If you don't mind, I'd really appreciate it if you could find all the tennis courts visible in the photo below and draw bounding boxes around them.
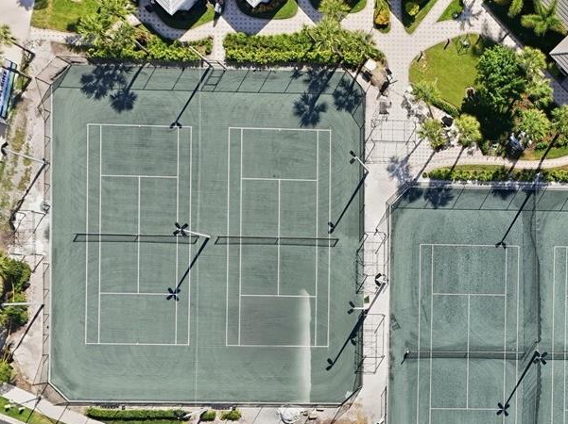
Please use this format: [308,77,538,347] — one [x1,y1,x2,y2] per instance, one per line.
[534,190,568,424]
[197,66,364,403]
[387,189,534,424]
[49,64,198,402]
